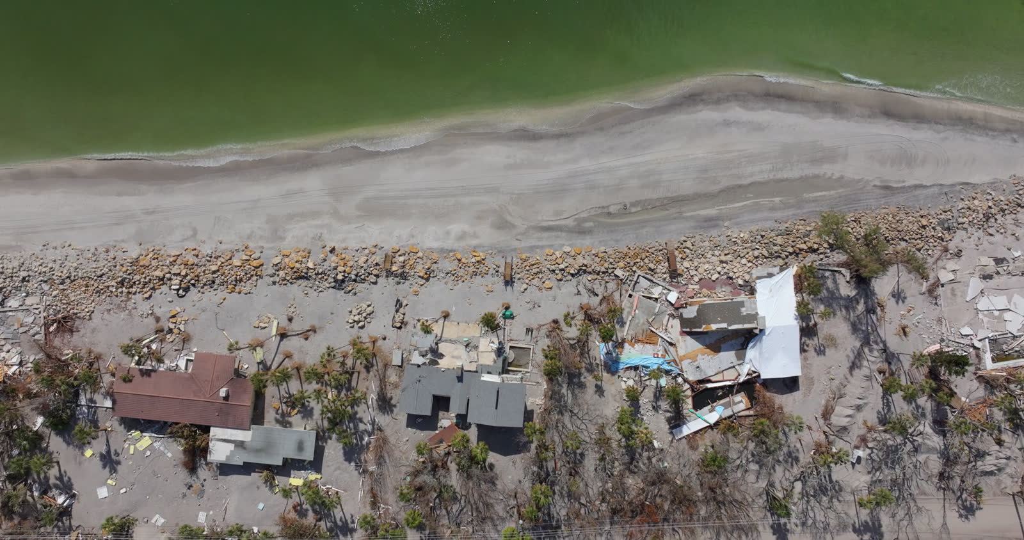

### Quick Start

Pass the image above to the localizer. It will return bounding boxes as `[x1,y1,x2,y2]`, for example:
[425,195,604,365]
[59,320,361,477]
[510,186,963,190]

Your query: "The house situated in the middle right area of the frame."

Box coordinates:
[739,267,801,381]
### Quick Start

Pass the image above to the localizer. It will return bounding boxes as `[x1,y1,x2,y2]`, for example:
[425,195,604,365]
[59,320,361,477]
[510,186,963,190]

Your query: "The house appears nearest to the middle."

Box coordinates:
[399,357,526,428]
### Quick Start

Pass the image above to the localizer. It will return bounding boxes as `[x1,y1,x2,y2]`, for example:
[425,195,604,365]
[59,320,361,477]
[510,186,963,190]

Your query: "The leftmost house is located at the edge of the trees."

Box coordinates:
[112,352,257,429]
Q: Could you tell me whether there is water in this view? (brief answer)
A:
Yes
